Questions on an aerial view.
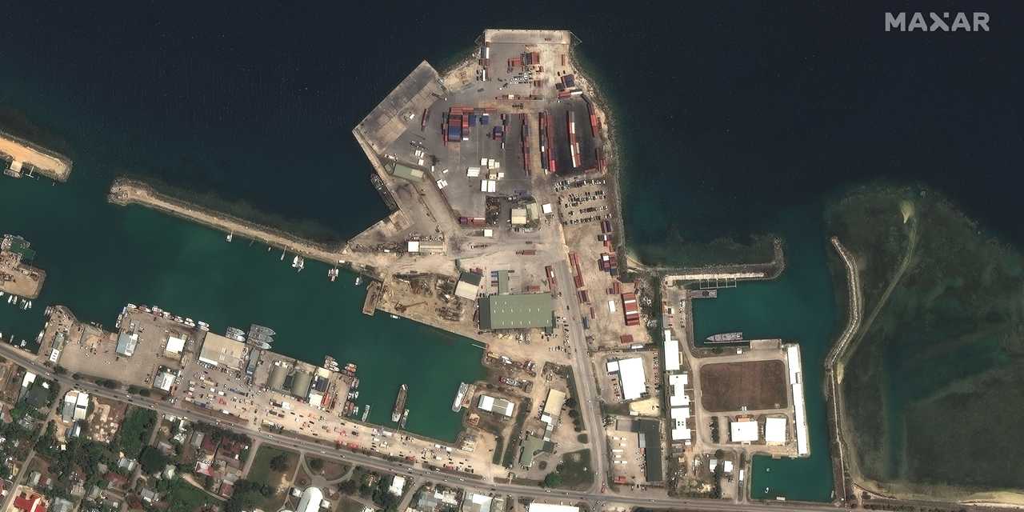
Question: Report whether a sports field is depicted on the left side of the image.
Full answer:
No, no sports field is visible on the left side of the image.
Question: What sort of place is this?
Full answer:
The area seen from above is a port.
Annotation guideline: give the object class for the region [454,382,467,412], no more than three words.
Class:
ship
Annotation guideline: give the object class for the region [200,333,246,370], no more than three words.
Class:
building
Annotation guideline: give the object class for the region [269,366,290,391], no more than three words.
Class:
shed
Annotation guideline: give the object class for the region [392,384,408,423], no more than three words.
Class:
ship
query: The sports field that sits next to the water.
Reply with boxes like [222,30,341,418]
[701,360,788,411]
